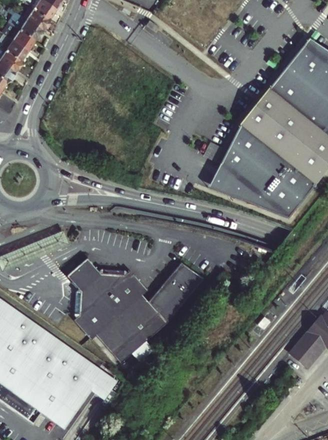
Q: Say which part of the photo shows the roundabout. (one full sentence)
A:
The roundabout is in the left part of the image.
